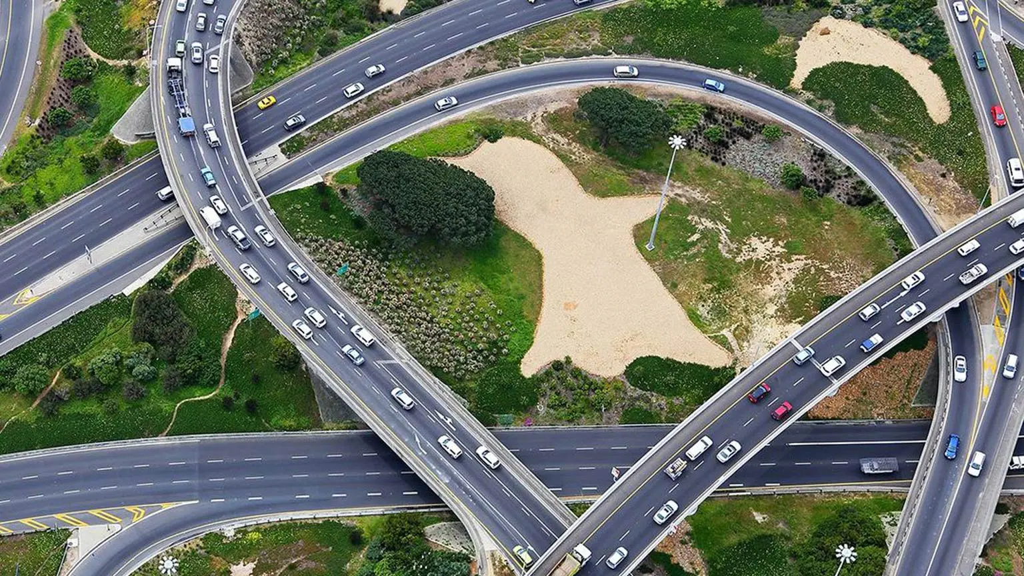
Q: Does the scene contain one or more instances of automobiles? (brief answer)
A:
Yes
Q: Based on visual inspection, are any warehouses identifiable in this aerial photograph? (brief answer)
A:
No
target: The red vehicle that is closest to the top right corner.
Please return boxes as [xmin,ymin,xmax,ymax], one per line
[991,106,1006,128]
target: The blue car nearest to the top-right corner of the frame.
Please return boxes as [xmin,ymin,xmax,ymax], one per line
[973,50,985,71]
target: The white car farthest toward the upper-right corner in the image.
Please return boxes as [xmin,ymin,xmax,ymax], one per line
[953,2,966,23]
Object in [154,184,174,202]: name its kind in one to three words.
car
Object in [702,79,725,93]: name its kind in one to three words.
car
